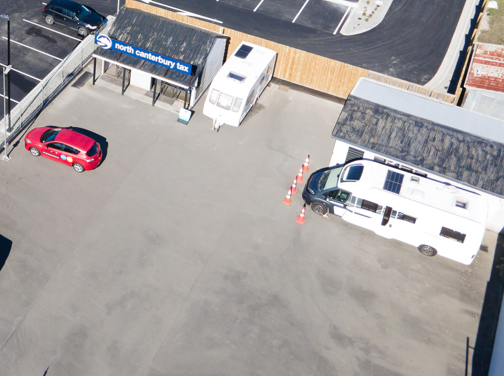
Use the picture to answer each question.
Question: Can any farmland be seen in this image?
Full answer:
No, there's no farmland in this view.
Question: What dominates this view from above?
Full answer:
The scene is dominated by paved ground.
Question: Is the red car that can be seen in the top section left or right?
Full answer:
It is on the left.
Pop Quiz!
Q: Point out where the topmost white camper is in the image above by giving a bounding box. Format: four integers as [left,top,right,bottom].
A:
[206,46,276,139]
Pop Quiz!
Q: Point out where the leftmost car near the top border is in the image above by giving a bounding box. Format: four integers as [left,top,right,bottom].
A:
[39,0,105,31]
